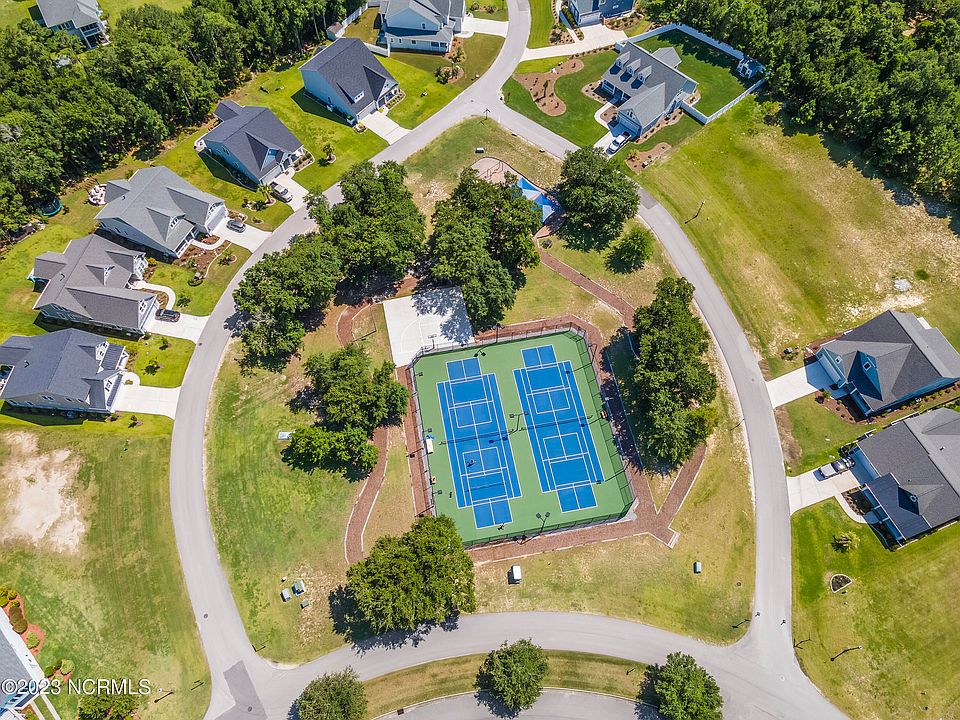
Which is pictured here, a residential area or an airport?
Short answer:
residential area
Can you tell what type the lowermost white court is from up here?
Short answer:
basketball court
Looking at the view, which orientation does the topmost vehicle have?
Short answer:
diagonally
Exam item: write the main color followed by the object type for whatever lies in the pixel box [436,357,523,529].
blue tennis court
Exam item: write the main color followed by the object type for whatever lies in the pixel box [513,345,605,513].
blue tennis court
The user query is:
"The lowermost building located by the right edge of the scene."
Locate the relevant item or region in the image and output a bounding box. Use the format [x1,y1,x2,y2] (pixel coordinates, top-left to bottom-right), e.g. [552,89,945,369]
[851,400,960,545]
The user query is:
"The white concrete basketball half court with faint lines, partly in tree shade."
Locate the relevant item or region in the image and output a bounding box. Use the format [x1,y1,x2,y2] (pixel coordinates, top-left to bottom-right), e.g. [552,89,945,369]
[383,287,474,365]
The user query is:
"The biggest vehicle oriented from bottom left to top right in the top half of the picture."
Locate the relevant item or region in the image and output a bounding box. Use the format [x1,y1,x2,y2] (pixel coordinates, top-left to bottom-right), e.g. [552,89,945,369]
[609,134,630,154]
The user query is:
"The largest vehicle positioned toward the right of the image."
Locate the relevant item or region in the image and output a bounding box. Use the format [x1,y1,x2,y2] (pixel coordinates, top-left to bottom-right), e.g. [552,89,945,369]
[820,458,855,476]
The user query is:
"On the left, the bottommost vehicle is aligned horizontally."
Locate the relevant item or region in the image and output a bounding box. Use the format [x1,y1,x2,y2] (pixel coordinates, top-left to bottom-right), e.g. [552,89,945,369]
[153,309,180,322]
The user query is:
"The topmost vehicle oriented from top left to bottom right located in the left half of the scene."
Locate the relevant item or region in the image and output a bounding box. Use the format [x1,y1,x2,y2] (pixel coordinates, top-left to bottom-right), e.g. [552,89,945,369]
[269,179,292,198]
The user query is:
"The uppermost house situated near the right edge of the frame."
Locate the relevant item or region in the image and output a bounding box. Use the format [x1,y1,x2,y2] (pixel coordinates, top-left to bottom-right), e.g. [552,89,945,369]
[816,309,960,416]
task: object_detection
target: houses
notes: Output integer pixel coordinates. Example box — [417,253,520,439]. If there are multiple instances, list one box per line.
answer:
[93,166,228,256]
[297,38,399,124]
[30,233,160,336]
[382,0,462,52]
[851,400,960,545]
[562,0,638,28]
[0,608,55,720]
[201,100,303,185]
[602,41,702,138]
[0,330,133,415]
[816,309,960,416]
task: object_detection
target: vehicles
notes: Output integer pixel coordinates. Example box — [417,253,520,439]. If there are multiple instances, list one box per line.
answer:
[224,217,247,232]
[820,458,855,476]
[269,179,292,198]
[609,134,630,154]
[153,309,180,322]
